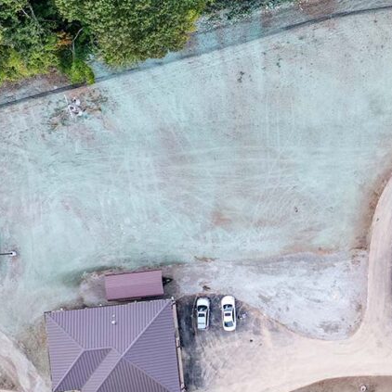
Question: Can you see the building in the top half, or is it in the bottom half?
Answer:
bottom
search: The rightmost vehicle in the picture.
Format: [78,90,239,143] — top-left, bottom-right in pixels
[220,297,235,332]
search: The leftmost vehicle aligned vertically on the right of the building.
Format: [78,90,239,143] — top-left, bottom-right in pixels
[194,298,209,332]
